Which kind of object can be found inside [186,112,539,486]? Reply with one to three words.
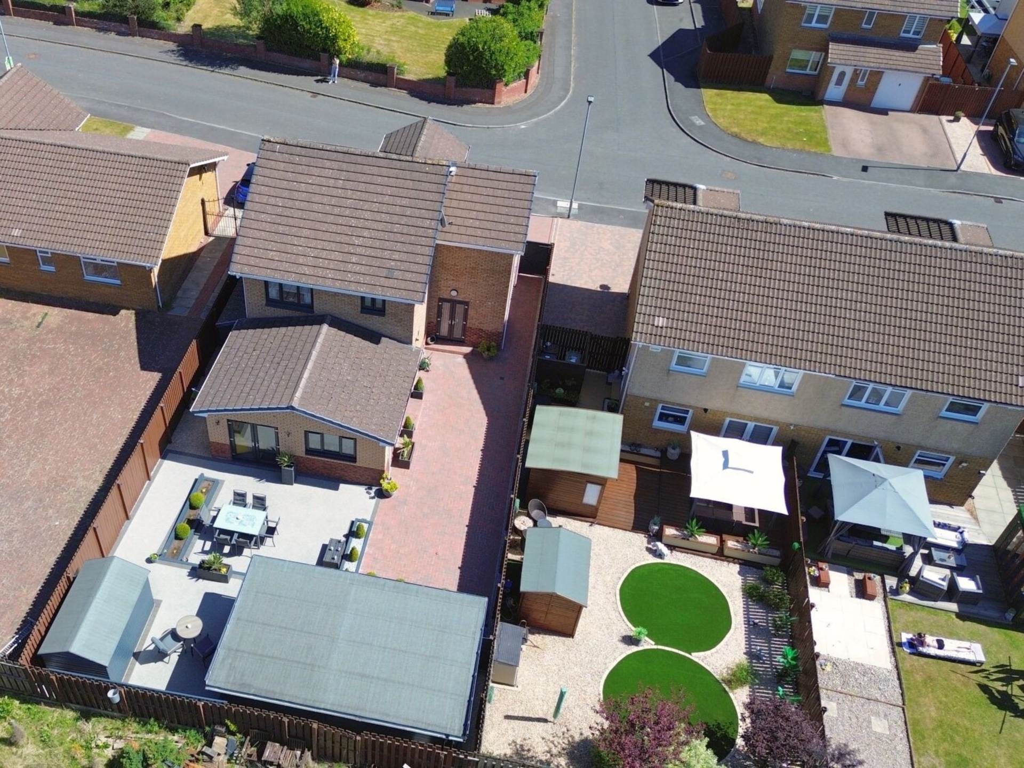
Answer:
house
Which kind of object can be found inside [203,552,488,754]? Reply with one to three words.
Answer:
building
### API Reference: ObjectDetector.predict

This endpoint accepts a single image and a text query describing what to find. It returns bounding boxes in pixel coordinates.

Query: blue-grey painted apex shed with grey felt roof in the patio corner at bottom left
[31,555,156,683]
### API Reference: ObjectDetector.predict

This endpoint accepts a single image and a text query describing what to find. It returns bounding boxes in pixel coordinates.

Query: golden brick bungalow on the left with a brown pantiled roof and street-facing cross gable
[0,60,228,308]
